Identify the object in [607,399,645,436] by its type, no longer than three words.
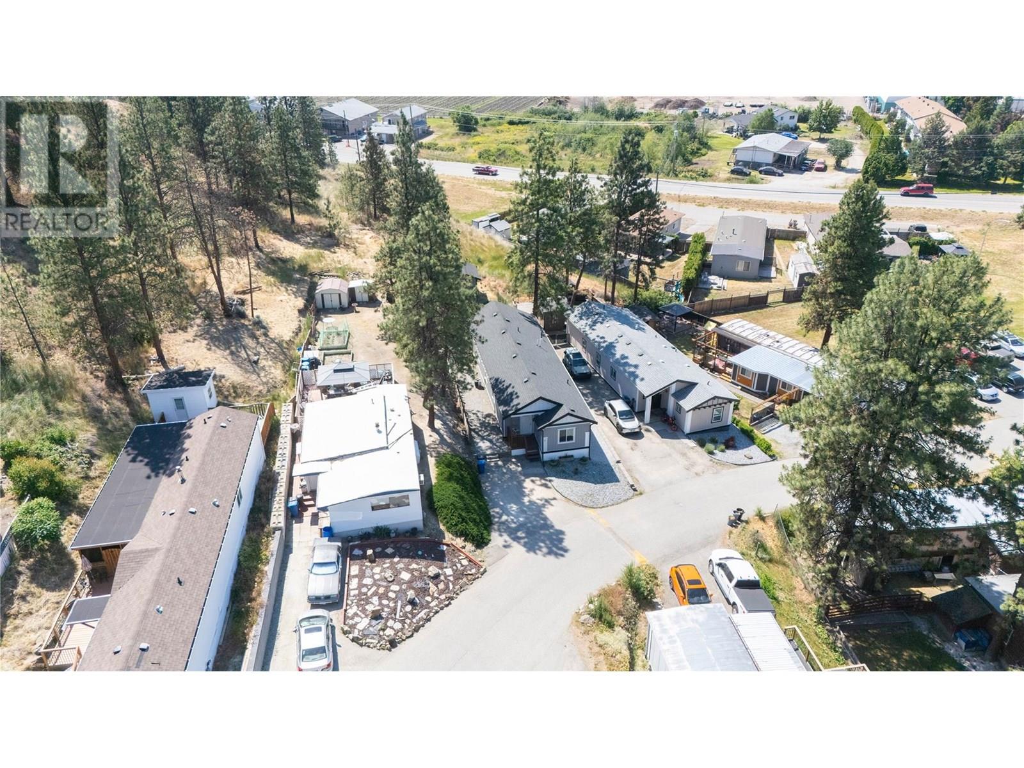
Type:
car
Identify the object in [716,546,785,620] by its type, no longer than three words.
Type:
truck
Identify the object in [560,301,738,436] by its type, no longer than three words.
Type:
house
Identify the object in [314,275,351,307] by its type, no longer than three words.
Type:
shed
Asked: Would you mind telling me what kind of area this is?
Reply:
residential area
